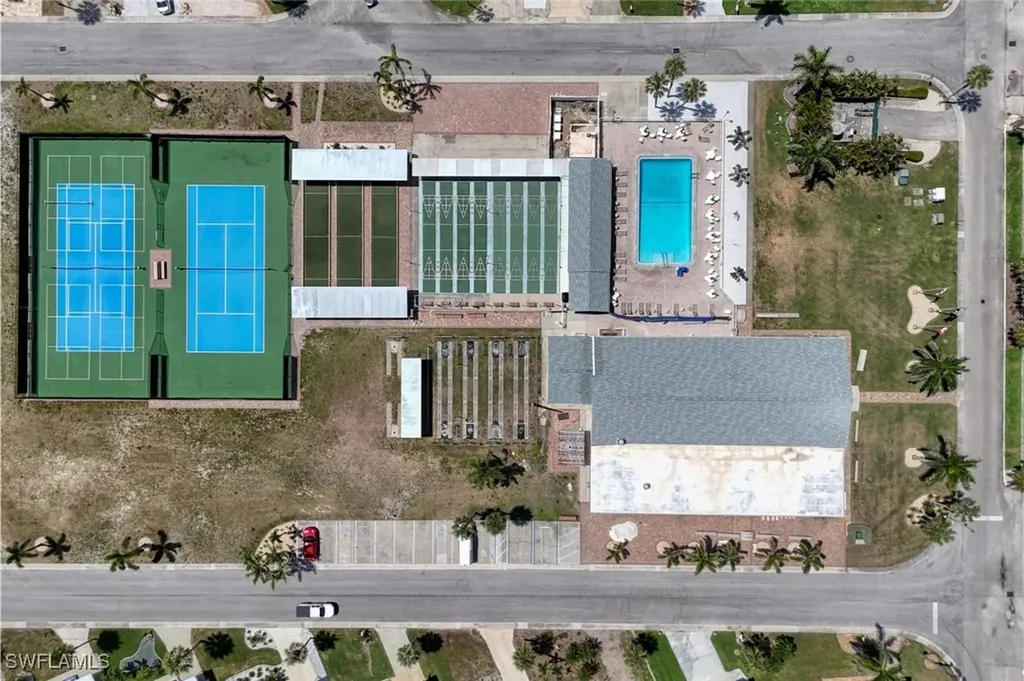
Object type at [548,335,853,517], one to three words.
building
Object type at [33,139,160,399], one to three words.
tennis court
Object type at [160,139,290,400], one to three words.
tennis court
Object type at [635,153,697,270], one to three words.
swimming pool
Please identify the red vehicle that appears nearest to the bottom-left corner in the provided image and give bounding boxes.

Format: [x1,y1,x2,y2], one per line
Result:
[301,526,319,561]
